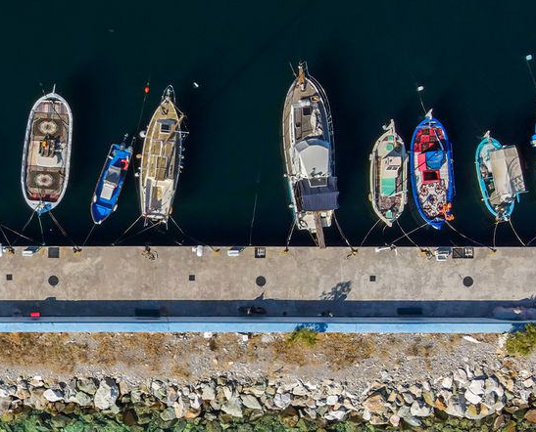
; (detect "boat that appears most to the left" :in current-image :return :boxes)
[1,85,75,252]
